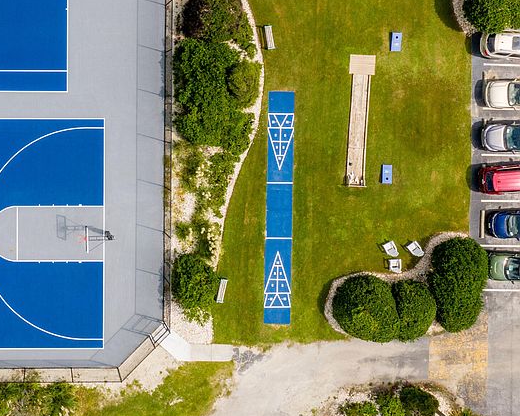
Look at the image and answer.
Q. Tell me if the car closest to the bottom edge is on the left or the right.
right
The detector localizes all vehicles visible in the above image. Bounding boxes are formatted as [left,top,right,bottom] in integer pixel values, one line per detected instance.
[483,78,520,111]
[488,251,520,283]
[477,32,520,61]
[490,209,520,243]
[482,122,520,155]
[476,166,520,195]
